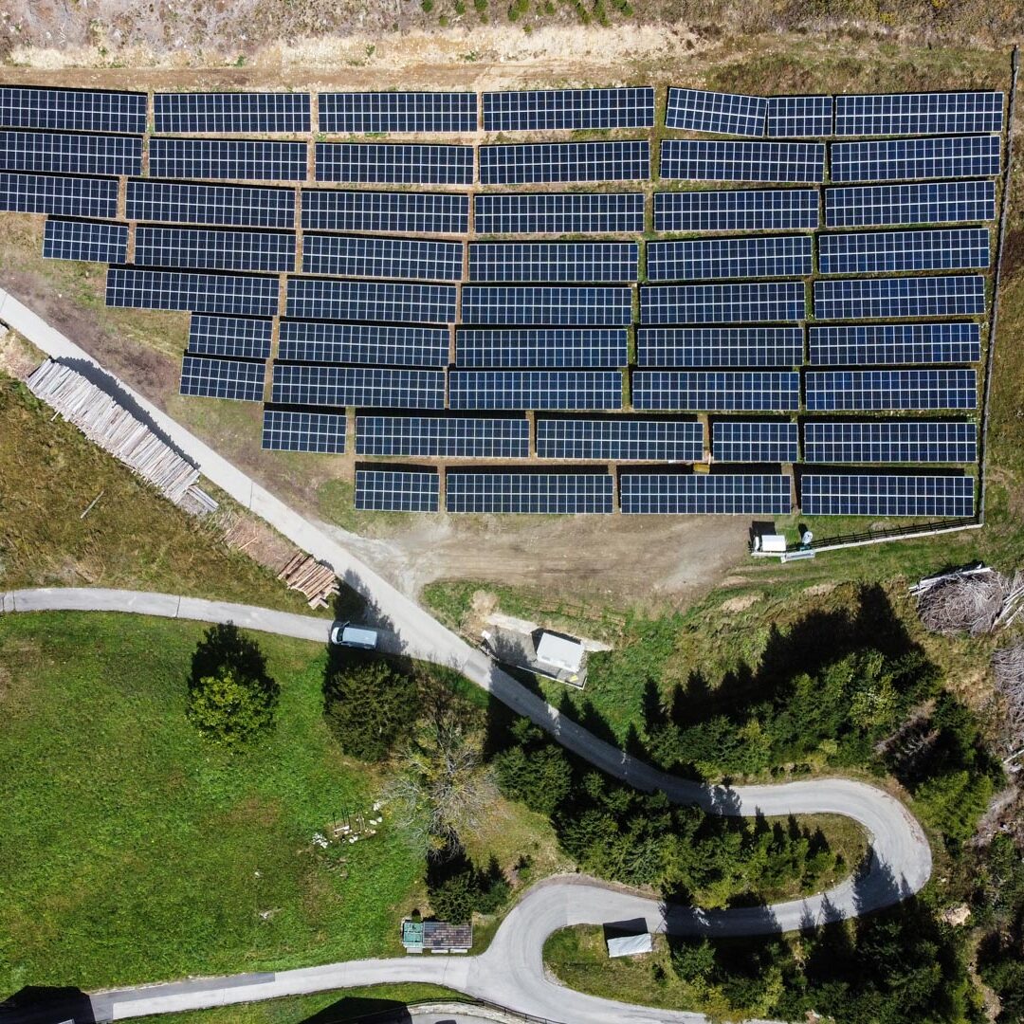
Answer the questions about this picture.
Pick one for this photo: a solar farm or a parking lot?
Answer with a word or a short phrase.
solar farm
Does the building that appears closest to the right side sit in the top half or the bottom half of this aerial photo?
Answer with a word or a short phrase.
bottom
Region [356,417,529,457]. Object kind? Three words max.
solar array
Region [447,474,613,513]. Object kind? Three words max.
solar array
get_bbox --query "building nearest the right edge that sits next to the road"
[607,932,651,957]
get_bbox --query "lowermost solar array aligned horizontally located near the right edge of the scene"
[801,476,975,516]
